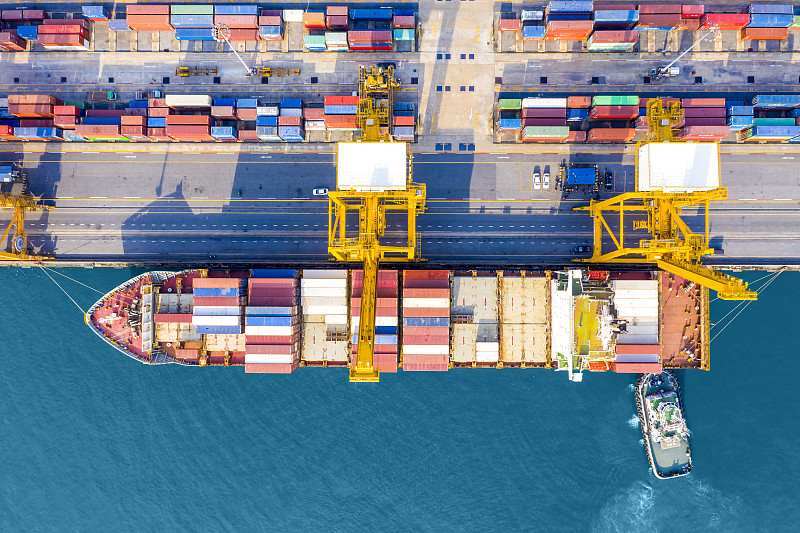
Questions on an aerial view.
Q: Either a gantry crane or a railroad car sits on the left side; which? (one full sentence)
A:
Visible on the left side is a gantry crane.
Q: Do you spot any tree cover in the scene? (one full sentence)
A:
No, the scene doesn't show any tree cover.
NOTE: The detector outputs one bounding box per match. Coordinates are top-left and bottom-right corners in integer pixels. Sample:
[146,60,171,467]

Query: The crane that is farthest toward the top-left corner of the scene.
[0,195,52,261]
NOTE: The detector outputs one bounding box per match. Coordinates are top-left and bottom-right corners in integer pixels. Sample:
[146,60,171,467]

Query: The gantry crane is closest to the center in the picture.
[326,62,430,383]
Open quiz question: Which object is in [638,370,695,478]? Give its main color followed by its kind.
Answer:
white boat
